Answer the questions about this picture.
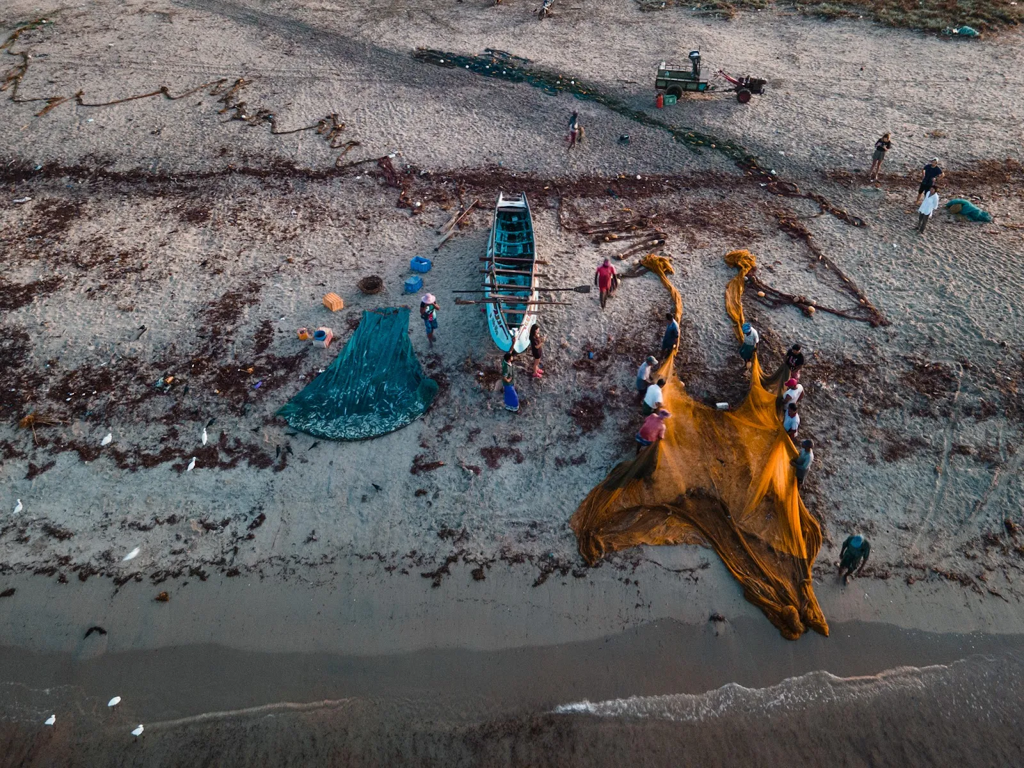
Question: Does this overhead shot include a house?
No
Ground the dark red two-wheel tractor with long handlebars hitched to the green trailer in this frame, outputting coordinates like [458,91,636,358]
[714,70,769,103]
